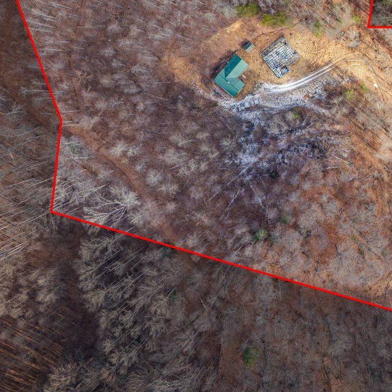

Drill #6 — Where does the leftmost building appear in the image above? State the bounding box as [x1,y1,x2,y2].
[211,55,249,100]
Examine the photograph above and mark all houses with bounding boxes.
[261,35,301,78]
[211,55,249,100]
